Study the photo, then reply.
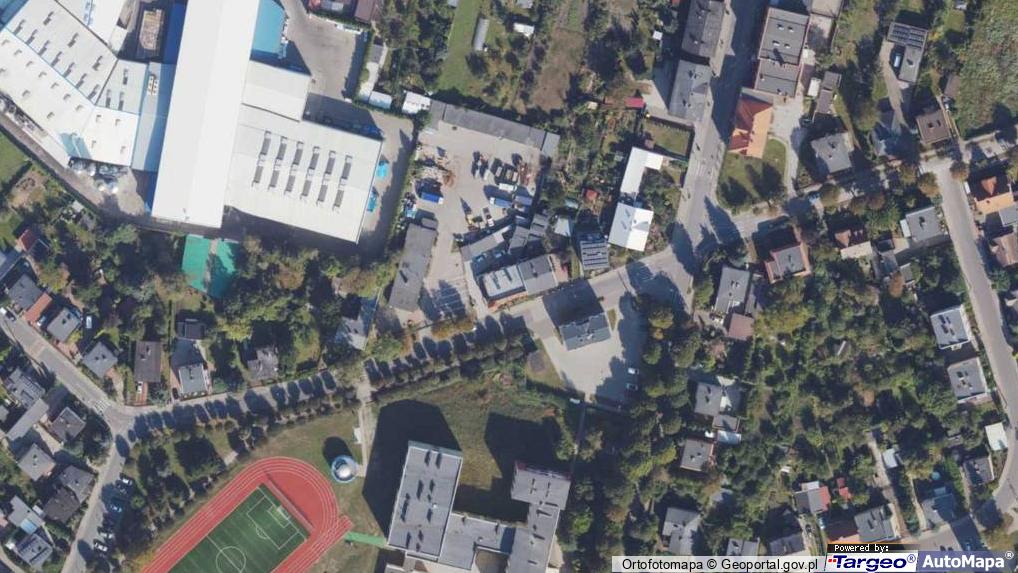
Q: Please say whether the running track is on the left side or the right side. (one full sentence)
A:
The running track appears in the left half of the scene.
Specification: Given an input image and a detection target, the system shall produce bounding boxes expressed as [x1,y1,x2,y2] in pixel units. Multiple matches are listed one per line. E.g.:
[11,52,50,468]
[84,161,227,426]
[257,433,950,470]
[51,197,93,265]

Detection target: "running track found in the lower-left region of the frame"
[133,461,356,573]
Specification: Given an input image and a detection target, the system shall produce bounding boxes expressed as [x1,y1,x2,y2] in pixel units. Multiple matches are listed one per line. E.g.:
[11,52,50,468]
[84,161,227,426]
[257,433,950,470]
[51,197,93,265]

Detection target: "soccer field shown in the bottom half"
[168,483,311,573]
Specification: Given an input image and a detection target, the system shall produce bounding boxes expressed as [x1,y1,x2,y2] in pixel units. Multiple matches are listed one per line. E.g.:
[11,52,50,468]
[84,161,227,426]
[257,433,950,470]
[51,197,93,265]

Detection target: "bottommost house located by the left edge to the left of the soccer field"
[15,533,56,567]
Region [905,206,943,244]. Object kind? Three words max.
house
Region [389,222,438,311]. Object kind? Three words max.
building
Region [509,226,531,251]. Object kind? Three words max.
shed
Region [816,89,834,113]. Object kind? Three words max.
shed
